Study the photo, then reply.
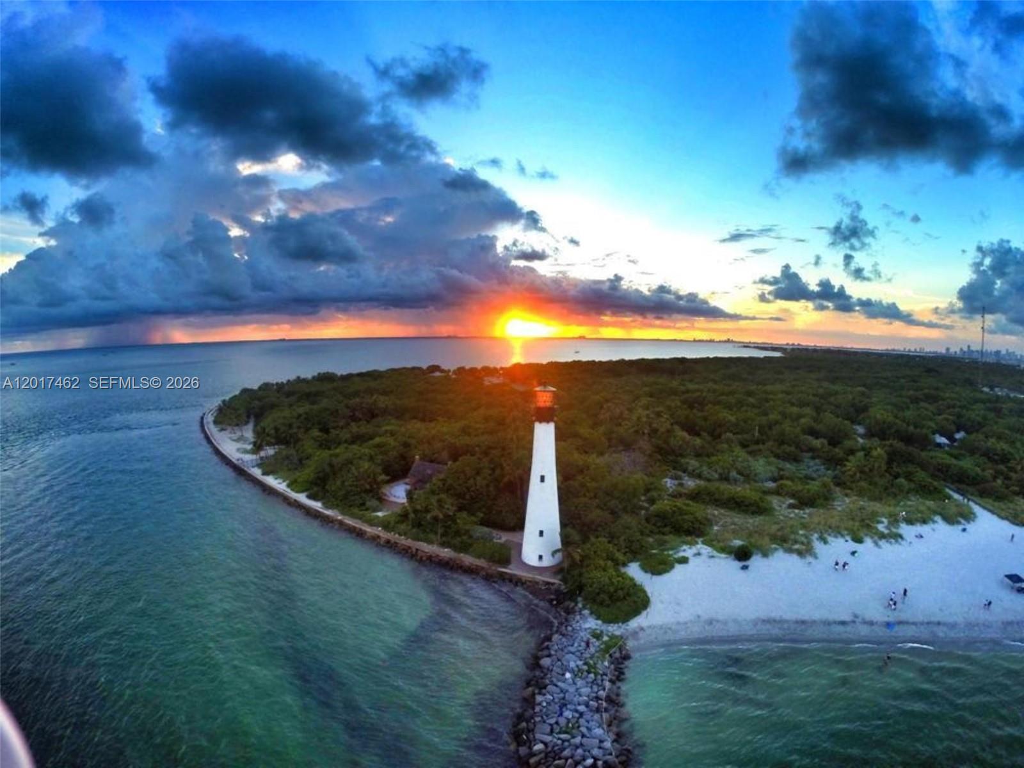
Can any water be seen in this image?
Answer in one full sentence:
Yes, water shows up in the scene.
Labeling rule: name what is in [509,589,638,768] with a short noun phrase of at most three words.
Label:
pier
